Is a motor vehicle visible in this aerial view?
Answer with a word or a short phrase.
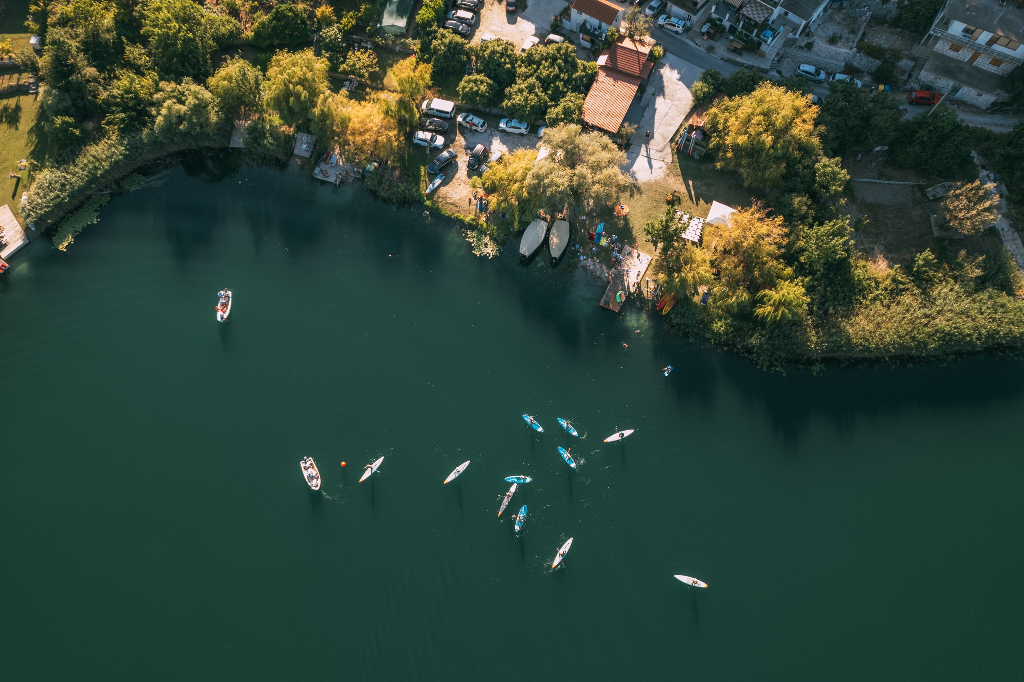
Yes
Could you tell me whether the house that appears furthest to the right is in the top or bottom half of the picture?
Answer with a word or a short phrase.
top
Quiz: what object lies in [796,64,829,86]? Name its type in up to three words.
car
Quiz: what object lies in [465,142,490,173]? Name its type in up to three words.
car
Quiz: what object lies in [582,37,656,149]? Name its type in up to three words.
building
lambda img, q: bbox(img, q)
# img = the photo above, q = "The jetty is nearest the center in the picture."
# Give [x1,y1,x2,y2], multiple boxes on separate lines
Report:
[599,246,652,315]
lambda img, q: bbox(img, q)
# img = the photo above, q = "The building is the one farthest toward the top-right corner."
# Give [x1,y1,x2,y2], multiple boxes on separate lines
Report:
[910,0,1024,113]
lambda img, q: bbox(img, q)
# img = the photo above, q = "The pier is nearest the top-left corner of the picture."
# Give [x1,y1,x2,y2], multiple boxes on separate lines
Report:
[0,206,32,260]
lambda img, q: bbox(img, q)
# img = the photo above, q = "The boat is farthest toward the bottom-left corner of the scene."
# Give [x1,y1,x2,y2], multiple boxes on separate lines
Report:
[300,456,320,491]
